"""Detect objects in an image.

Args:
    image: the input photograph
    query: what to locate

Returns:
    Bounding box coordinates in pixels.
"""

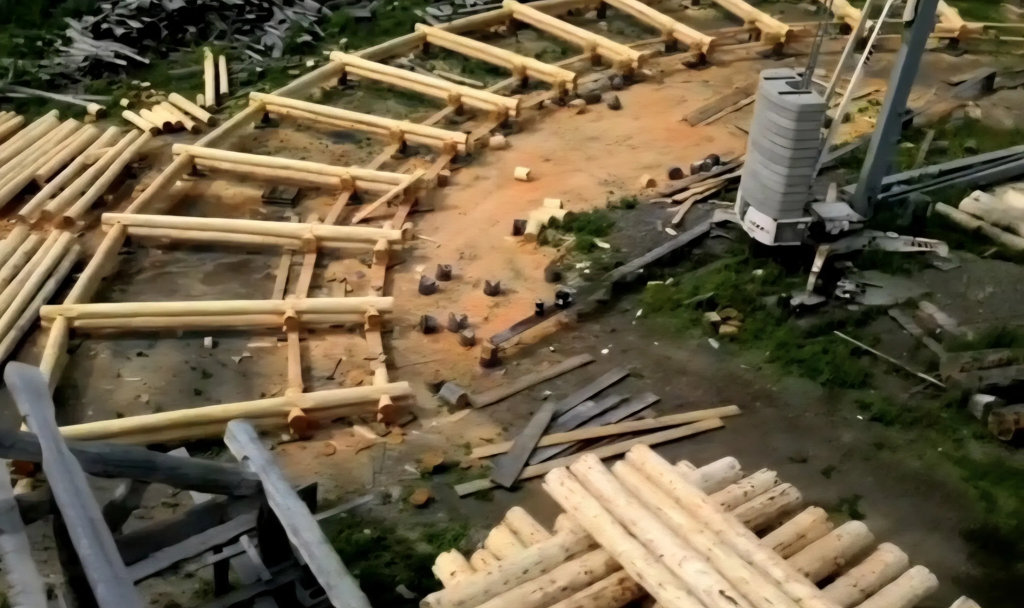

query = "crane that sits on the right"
[708,0,959,307]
